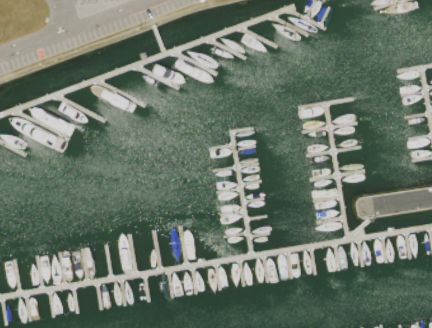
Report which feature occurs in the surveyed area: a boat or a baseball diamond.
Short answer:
boat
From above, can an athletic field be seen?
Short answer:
No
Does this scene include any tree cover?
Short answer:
No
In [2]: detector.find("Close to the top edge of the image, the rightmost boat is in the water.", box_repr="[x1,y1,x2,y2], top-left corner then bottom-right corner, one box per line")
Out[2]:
[383,0,418,14]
